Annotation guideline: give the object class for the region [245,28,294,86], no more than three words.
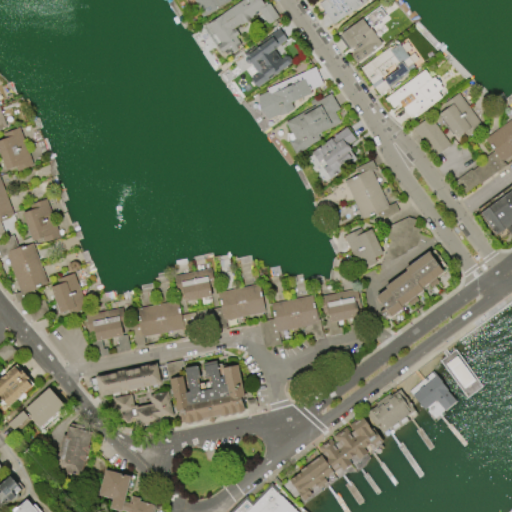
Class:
house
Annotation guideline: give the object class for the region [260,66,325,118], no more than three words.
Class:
house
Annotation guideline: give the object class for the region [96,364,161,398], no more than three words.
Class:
building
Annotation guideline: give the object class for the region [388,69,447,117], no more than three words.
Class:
building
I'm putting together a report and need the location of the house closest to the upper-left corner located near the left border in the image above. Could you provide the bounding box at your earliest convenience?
[0,128,34,174]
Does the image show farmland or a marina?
marina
